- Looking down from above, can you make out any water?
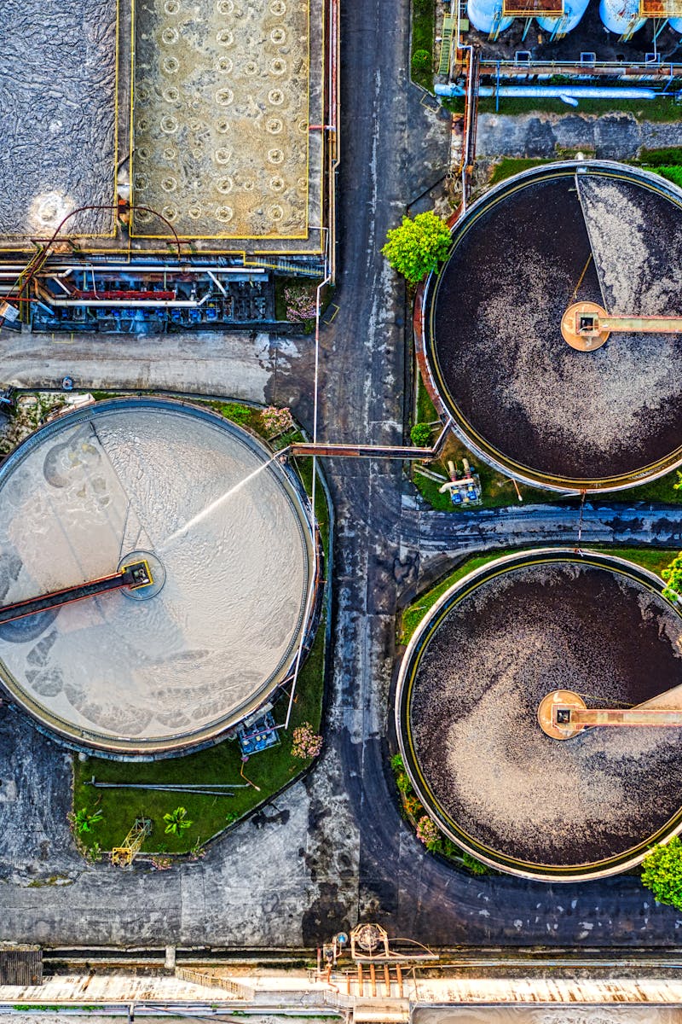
Yes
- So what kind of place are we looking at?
industrial area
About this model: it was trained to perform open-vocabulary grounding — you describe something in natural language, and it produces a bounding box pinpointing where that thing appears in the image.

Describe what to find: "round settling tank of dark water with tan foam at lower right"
[395,548,682,882]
